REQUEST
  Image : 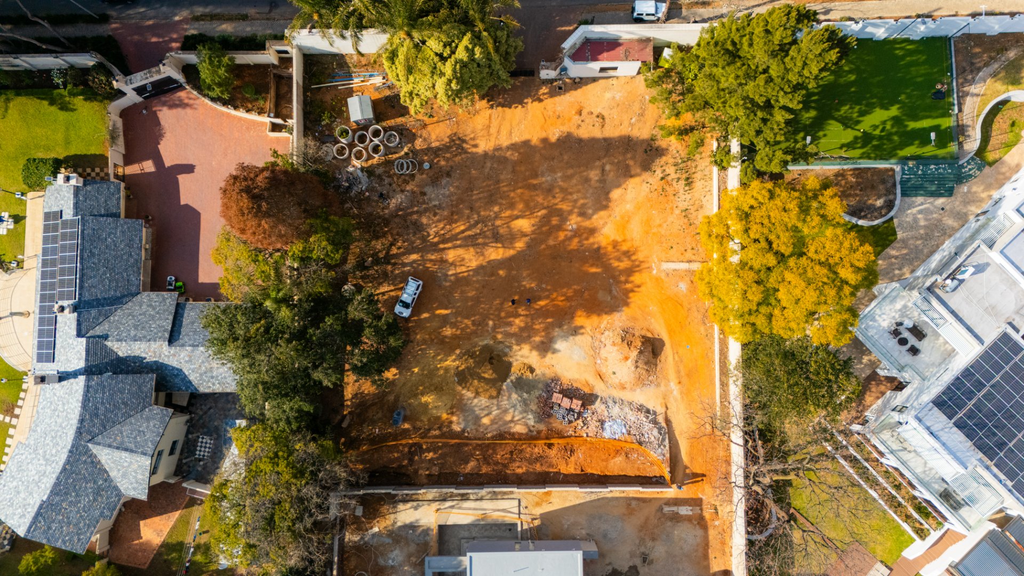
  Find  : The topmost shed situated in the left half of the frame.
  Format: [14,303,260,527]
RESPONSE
[347,95,378,128]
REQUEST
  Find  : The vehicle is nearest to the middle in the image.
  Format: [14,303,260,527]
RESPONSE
[392,274,424,321]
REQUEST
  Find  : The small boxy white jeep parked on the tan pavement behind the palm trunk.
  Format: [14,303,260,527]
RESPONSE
[634,3,667,22]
